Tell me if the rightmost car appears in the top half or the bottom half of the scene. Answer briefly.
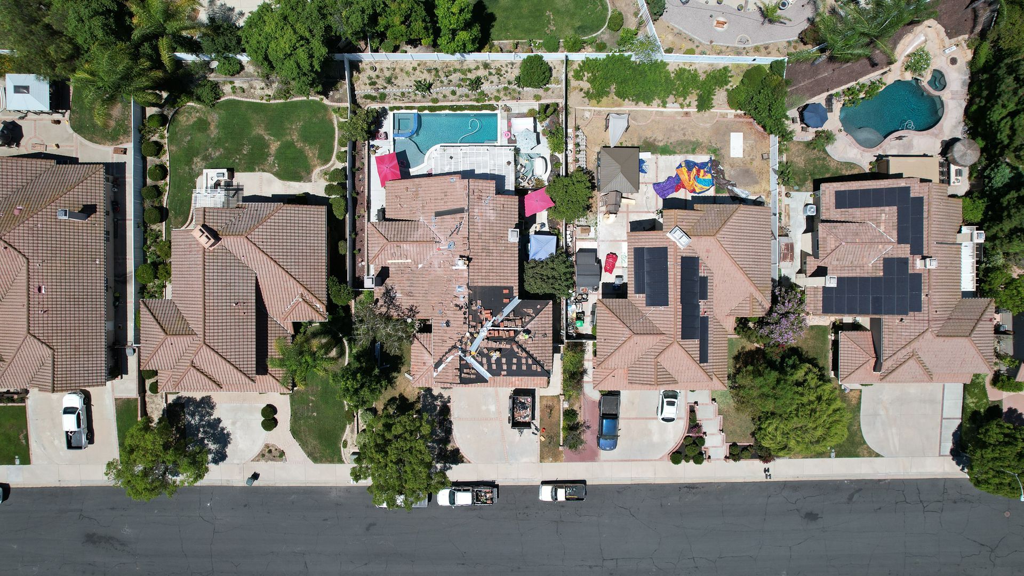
bottom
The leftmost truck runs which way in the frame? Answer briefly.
from top to bottom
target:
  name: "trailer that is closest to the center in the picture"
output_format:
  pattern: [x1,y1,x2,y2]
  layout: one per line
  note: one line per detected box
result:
[507,393,537,445]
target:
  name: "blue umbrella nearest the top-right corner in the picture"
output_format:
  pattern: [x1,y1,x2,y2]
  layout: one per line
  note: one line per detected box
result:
[799,103,827,128]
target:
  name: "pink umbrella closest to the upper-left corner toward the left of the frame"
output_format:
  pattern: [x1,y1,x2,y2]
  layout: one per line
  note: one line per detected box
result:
[375,152,401,188]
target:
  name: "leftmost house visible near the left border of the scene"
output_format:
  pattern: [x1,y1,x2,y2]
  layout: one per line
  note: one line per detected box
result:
[0,156,120,402]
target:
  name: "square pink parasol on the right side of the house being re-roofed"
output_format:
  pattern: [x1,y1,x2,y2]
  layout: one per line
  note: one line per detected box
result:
[525,188,553,216]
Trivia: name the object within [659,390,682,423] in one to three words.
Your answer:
car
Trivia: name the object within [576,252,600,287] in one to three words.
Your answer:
shed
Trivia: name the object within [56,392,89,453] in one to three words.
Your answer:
truck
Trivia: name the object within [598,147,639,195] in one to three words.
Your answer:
gazebo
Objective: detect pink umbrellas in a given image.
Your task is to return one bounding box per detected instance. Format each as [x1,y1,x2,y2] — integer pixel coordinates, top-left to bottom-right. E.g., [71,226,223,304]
[525,188,553,216]
[375,152,401,188]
